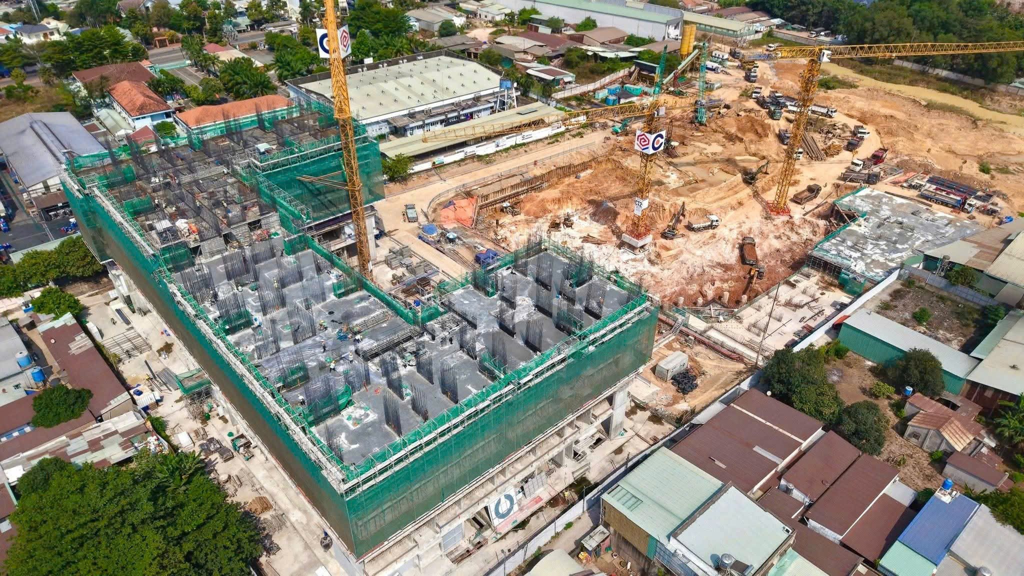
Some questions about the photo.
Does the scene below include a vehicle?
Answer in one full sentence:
Yes, there's a vehicle here.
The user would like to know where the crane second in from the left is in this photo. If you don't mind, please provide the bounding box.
[421,97,728,251]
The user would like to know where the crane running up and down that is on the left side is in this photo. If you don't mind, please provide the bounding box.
[303,0,377,277]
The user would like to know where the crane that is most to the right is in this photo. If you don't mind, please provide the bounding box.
[747,35,1024,217]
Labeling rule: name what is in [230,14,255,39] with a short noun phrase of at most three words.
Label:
building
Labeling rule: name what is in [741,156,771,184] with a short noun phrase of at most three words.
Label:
work vehicle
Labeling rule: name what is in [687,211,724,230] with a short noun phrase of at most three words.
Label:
vehicle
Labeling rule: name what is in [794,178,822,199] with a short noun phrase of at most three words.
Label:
truck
